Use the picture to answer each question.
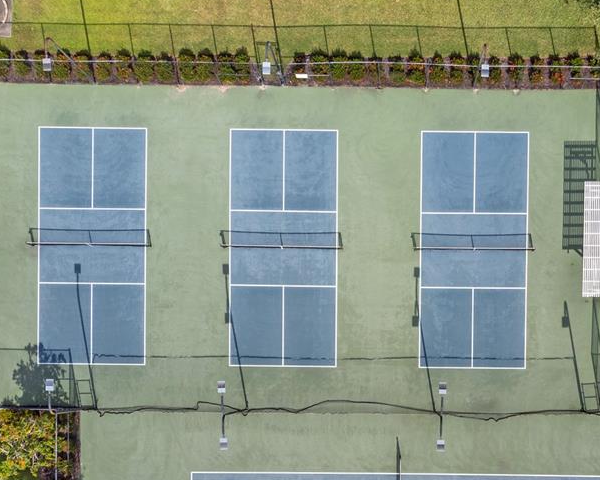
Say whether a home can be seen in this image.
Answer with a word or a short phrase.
No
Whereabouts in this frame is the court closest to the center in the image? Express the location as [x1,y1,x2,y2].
[229,129,339,368]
